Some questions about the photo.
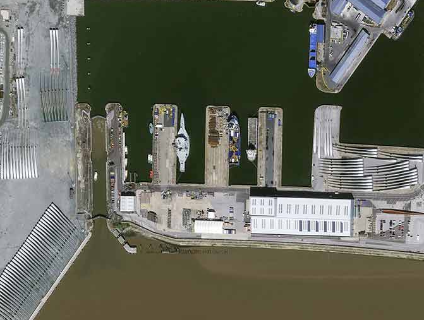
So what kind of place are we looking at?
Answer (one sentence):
It's a port.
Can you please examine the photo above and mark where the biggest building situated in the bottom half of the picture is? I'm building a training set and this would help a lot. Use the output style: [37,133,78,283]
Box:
[276,199,356,236]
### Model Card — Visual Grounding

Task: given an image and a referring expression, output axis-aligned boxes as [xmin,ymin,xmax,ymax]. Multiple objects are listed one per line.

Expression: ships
[249,117,257,149]
[175,113,189,172]
[122,113,129,124]
[308,25,317,78]
[229,114,239,164]
[388,9,412,39]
